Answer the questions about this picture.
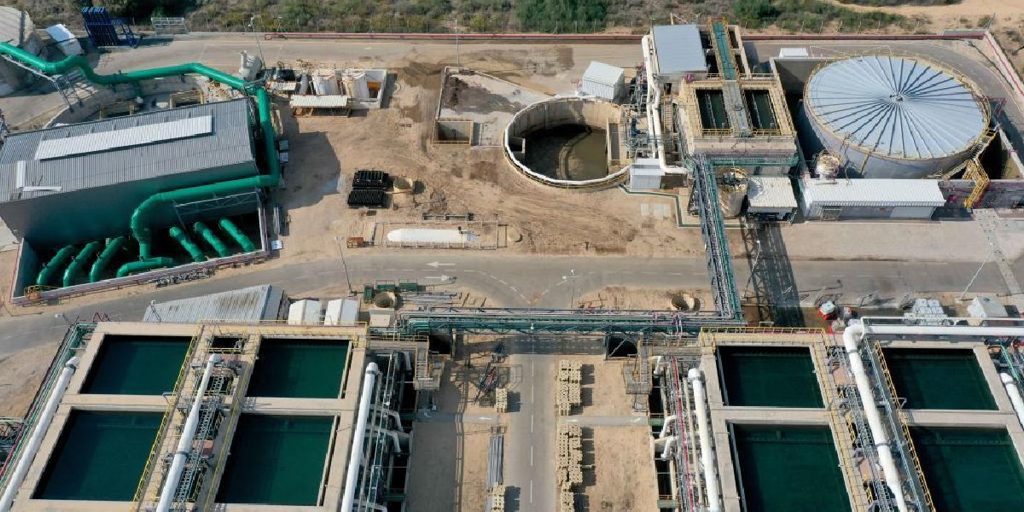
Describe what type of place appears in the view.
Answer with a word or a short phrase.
industrial area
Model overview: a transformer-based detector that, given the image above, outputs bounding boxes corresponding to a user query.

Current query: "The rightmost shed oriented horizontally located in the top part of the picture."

[796,181,944,224]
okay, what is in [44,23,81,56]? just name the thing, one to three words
building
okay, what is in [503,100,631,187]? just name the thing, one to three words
storage tank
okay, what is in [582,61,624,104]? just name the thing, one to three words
shed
